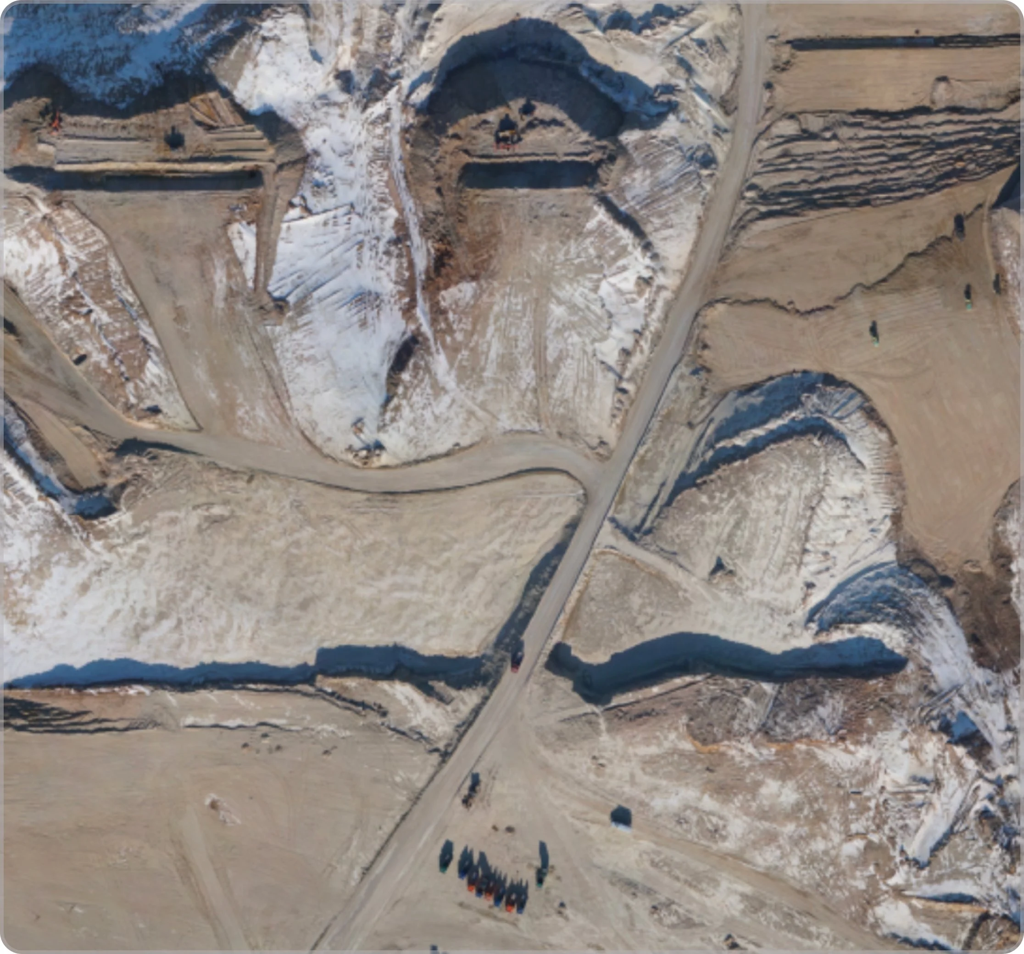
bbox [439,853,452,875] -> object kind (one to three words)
vehicle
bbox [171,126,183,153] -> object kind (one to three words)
vehicle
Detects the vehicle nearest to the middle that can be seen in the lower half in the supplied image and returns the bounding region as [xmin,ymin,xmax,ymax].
[512,652,524,674]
